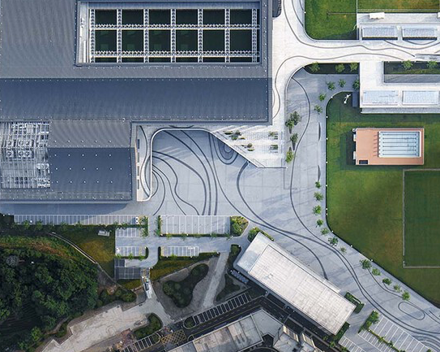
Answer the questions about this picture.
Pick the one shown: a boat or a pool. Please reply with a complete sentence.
The one in the frame is a pool.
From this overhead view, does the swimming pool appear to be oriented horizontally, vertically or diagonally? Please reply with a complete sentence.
In this picture, the swimming pool is oriented horizontally.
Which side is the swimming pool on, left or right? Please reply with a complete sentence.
You can find the swimming pool on the right side of the picture.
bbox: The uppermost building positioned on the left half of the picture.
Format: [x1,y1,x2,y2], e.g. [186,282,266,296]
[0,0,273,202]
